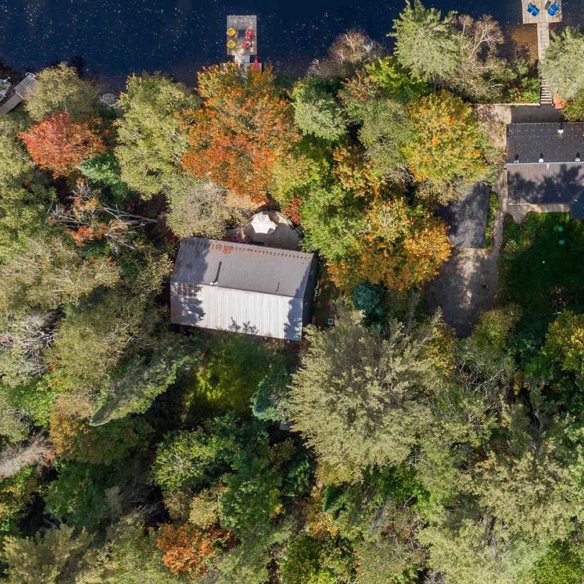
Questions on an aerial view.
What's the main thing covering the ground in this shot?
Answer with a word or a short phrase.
trees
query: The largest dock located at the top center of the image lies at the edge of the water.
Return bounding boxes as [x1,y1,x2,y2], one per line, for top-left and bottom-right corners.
[227,15,258,55]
